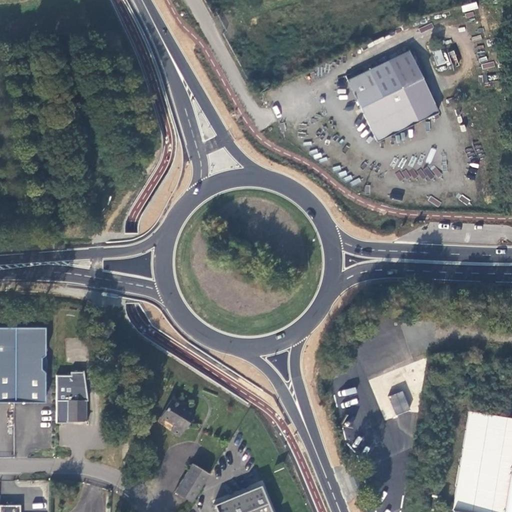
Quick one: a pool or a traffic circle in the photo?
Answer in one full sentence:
It is a traffic circle that can be seen here.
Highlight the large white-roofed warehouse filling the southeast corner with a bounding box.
[453,410,512,512]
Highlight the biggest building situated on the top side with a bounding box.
[348,51,439,141]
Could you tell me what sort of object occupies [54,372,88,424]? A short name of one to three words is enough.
building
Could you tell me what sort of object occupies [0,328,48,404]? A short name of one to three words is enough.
building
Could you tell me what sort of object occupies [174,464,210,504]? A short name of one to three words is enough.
shed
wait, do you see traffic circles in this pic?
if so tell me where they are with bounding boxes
[154,167,344,358]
